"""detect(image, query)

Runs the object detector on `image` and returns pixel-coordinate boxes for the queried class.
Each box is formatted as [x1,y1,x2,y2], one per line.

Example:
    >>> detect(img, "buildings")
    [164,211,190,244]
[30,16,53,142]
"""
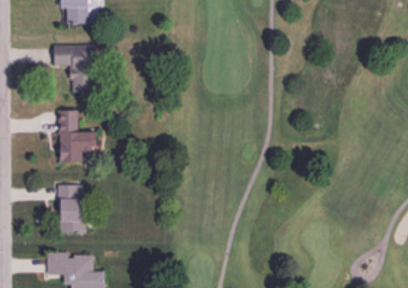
[58,185,86,235]
[60,0,87,24]
[54,46,88,94]
[46,253,105,288]
[57,111,96,162]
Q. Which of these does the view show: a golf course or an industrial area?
golf course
